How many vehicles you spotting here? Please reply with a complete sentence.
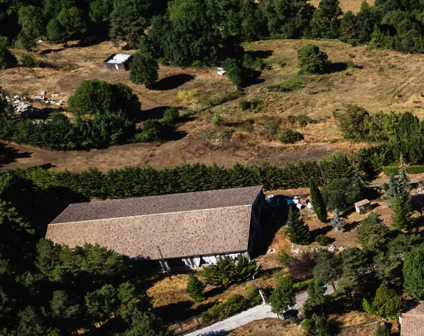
The count of vehicles is 0.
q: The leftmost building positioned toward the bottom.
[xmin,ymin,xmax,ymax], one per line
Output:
[40,185,264,284]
